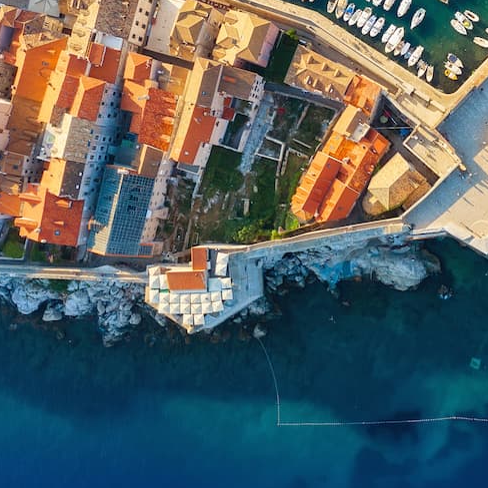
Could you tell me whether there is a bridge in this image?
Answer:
No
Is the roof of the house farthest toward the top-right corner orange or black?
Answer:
orange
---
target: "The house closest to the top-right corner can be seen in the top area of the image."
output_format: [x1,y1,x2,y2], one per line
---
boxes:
[346,75,384,117]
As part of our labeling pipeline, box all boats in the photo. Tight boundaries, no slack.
[345,2,354,20]
[385,23,396,42]
[444,68,457,77]
[386,24,404,52]
[328,0,337,13]
[410,43,424,66]
[372,16,385,36]
[402,41,411,55]
[447,51,462,66]
[419,58,427,77]
[413,6,426,28]
[450,19,468,33]
[405,48,413,60]
[454,9,472,28]
[364,14,376,33]
[398,0,412,16]
[444,61,461,72]
[358,6,372,27]
[465,9,479,20]
[336,0,347,17]
[350,8,361,24]
[395,39,404,55]
[472,34,488,46]
[427,63,433,82]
